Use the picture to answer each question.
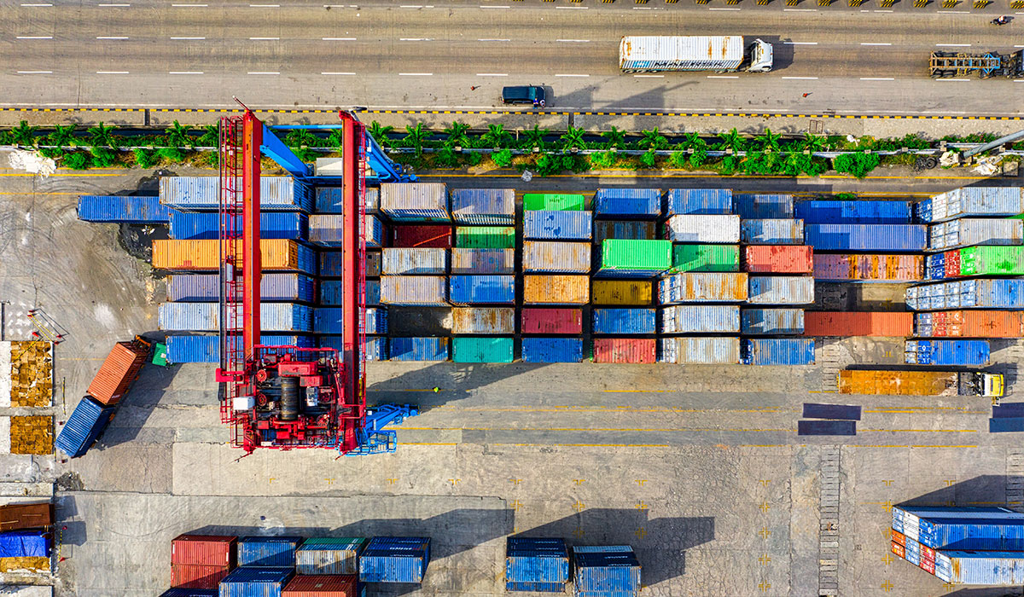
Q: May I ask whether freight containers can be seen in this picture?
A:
Yes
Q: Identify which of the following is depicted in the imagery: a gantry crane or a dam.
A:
gantry crane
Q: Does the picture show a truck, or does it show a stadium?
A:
truck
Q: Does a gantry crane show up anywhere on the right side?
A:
No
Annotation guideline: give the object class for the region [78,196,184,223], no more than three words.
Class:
shipping container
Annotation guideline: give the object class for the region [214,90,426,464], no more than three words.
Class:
container crane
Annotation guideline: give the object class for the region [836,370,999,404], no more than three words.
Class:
truck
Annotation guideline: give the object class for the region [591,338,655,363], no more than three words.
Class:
shipping container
